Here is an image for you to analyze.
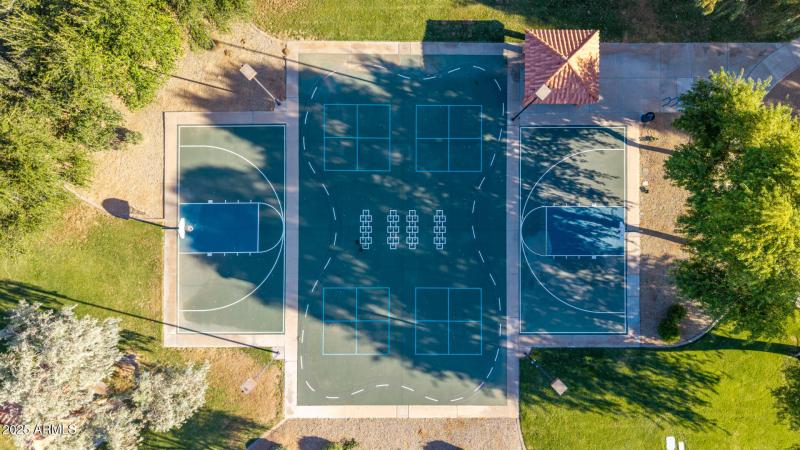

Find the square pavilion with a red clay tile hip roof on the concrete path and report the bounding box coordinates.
[523,27,602,105]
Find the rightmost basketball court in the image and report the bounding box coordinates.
[520,126,626,334]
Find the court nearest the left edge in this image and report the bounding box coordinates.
[177,124,285,334]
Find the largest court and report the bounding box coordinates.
[298,53,507,406]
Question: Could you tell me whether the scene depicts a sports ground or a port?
sports ground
